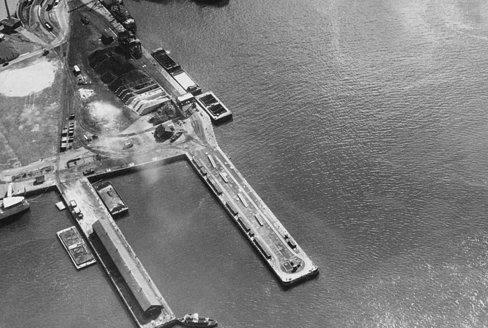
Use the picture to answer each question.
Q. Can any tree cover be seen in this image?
No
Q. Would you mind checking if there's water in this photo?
Yes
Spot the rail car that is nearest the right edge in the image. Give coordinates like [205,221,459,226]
[283,231,298,249]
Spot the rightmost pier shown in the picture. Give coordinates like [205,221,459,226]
[184,150,319,287]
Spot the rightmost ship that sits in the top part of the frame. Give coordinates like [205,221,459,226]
[195,89,231,123]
